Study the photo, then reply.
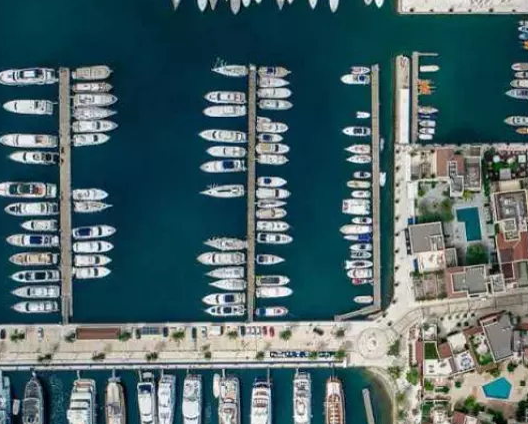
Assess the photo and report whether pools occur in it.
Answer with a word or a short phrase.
Yes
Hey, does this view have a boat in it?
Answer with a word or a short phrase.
Yes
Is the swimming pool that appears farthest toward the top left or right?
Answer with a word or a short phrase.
right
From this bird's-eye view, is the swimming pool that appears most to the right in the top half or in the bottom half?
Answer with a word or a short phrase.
bottom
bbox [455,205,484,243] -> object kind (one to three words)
swimming pool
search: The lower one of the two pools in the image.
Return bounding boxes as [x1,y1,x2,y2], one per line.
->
[481,375,514,401]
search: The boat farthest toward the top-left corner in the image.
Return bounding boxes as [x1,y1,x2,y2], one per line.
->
[0,66,58,84]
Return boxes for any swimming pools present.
[481,375,514,401]
[455,205,484,243]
